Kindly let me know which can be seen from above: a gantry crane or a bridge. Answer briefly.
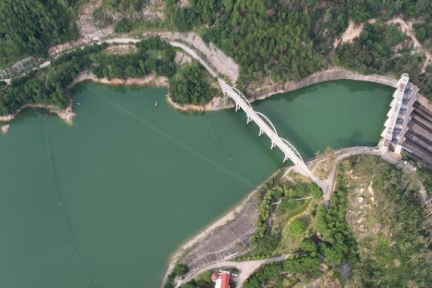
bridge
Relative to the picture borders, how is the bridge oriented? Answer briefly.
diagonally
